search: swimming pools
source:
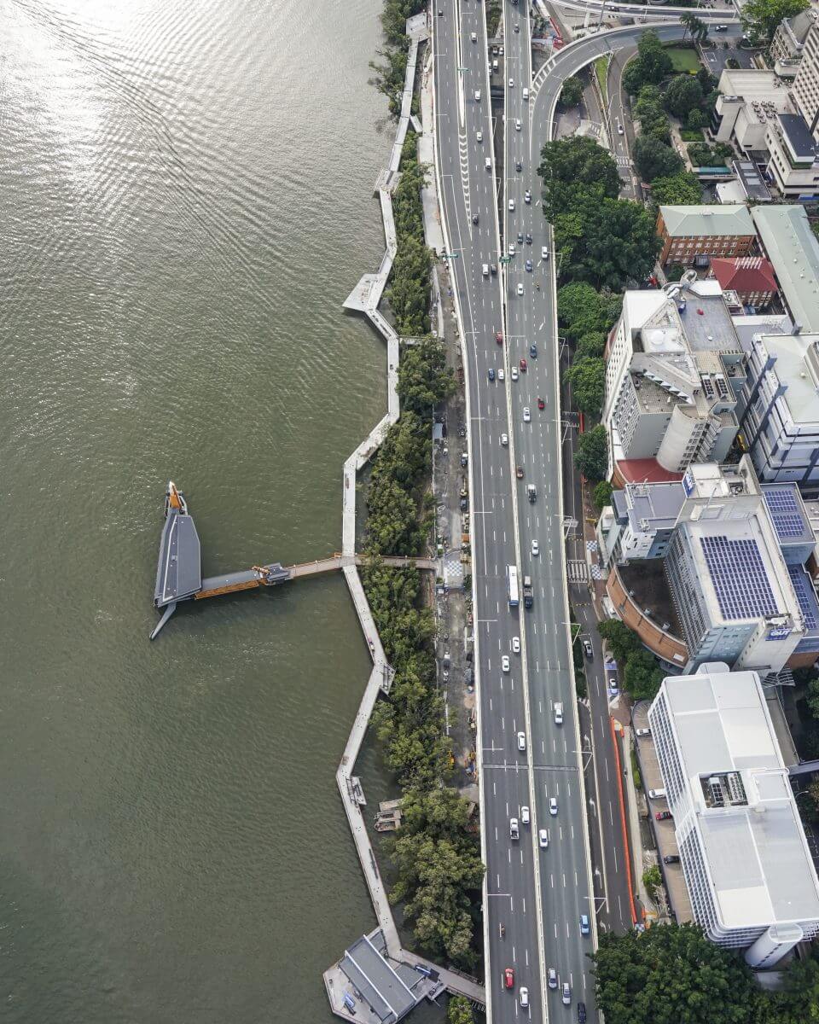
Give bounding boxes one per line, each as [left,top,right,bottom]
[693,166,735,186]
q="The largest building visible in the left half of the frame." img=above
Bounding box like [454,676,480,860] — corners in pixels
[150,480,344,642]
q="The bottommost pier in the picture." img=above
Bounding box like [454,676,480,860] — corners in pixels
[323,925,445,1024]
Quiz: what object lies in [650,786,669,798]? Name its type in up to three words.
vehicle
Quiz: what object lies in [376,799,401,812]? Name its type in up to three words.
ship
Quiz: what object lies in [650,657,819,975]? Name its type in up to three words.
building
